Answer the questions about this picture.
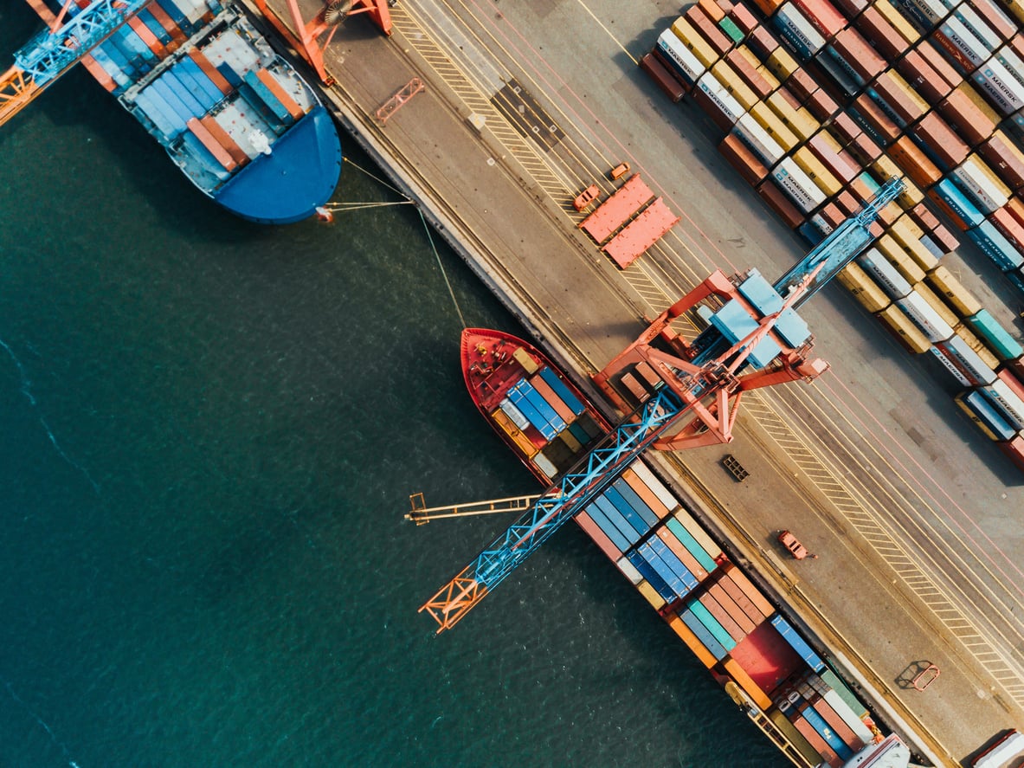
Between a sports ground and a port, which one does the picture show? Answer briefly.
port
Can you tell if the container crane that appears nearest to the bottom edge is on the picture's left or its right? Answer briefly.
right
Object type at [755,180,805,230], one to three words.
shipping container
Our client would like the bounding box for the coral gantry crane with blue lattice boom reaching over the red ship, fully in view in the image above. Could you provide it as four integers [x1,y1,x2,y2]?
[419,170,913,636]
